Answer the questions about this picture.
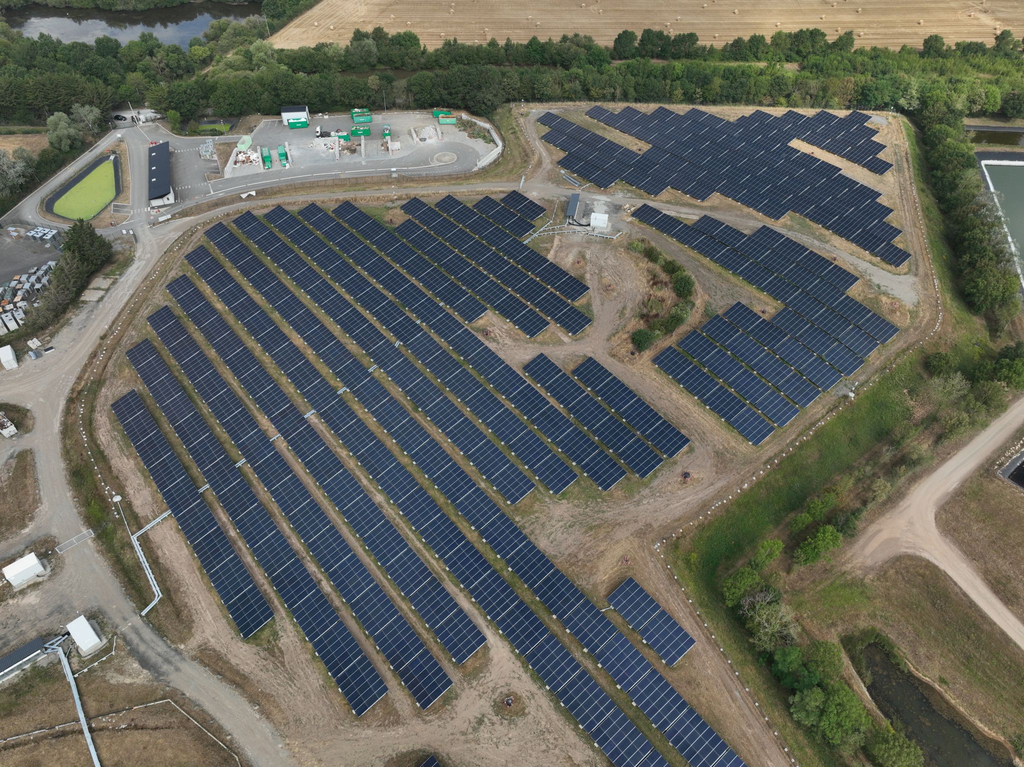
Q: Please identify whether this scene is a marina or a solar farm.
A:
solar farm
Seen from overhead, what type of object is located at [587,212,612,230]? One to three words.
building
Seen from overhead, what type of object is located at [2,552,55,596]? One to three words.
building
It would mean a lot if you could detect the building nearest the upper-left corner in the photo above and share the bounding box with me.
[142,138,178,207]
